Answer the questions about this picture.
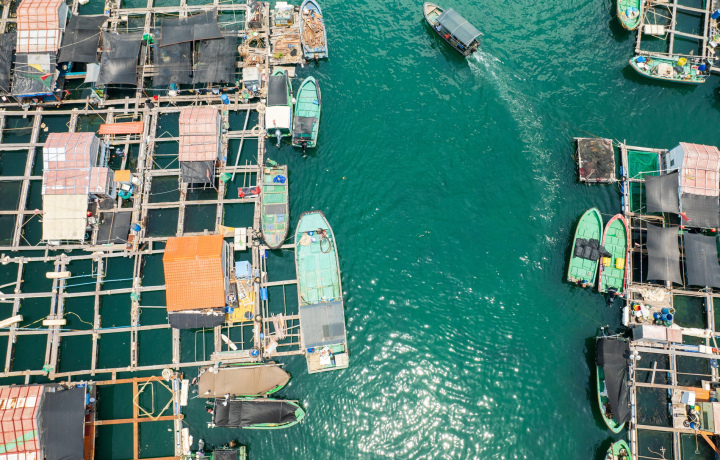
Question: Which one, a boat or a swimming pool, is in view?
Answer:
boat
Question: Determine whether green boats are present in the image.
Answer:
Yes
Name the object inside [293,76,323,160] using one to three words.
boat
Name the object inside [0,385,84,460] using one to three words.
shed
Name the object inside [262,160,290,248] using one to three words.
boat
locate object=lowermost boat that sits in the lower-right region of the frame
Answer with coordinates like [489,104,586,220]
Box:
[602,439,634,460]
